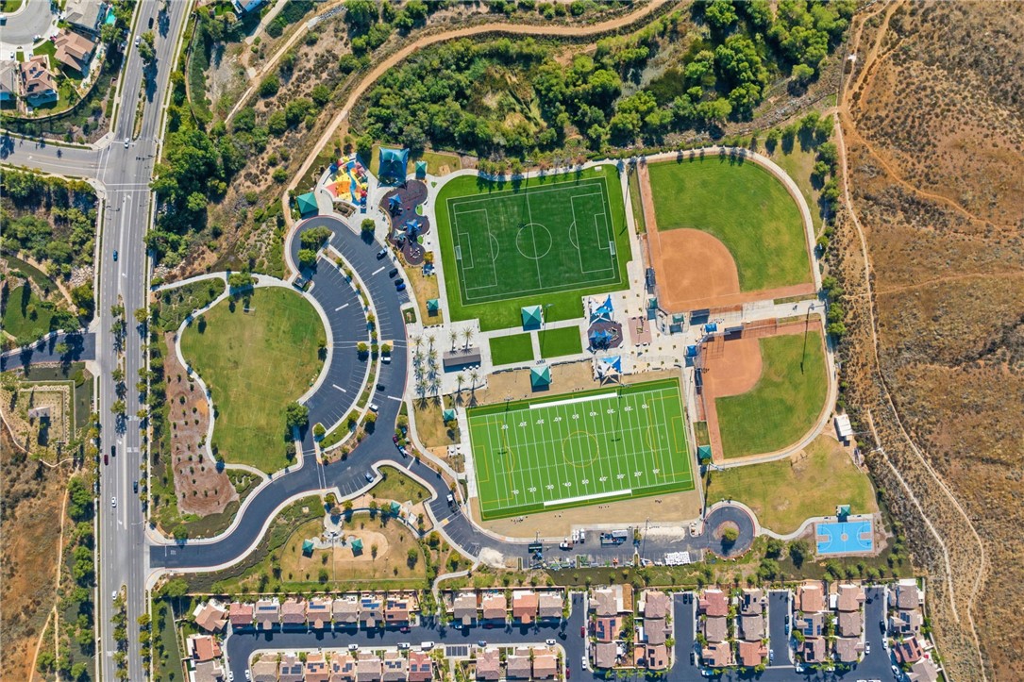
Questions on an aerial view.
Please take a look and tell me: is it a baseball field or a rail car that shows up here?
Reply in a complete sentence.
This aerial view contains a baseball field.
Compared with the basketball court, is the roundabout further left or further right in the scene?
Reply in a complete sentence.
Compared with the basketball court, the roundabout is located further to the left.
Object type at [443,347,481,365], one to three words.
building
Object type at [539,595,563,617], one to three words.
house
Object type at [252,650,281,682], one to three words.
house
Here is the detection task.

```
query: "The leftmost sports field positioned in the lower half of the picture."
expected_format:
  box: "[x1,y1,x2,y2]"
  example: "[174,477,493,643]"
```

[466,378,695,521]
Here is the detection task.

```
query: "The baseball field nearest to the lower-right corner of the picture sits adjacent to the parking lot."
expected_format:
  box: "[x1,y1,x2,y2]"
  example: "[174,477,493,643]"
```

[701,315,830,463]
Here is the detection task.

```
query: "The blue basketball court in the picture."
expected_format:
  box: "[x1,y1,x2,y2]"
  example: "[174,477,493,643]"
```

[815,519,875,557]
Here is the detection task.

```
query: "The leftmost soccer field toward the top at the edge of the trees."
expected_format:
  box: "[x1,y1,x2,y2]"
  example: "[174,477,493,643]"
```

[446,176,622,305]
